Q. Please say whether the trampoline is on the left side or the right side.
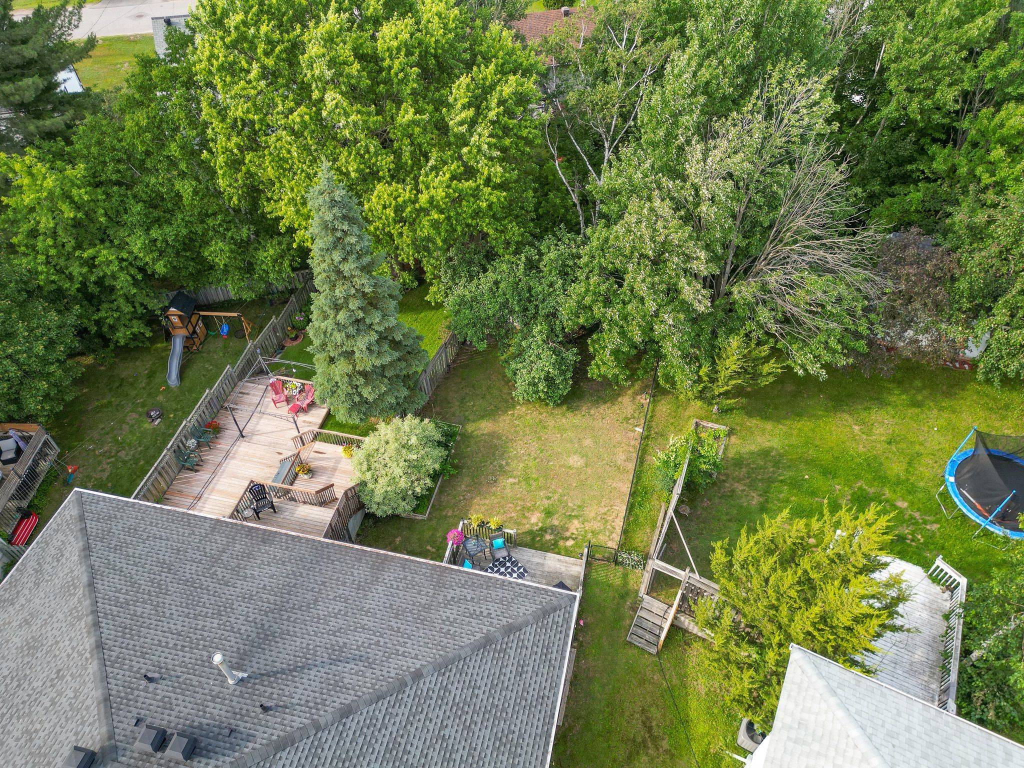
right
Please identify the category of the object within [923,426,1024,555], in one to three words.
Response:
trampoline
